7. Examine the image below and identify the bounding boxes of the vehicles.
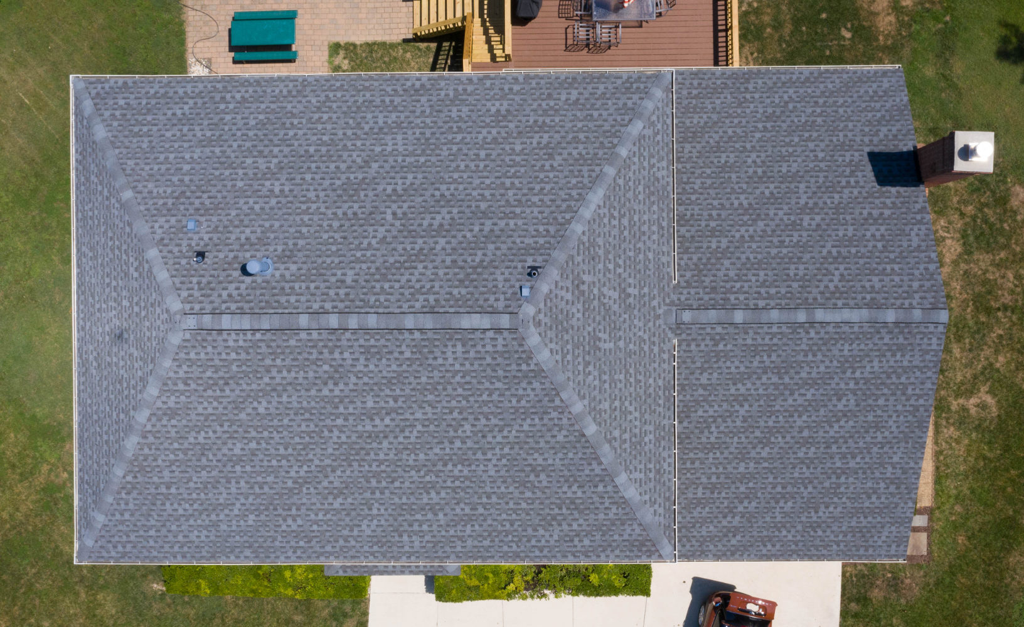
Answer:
[694,585,778,627]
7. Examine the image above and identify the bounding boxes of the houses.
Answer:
[71,67,993,577]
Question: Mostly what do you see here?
buildings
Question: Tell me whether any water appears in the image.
No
